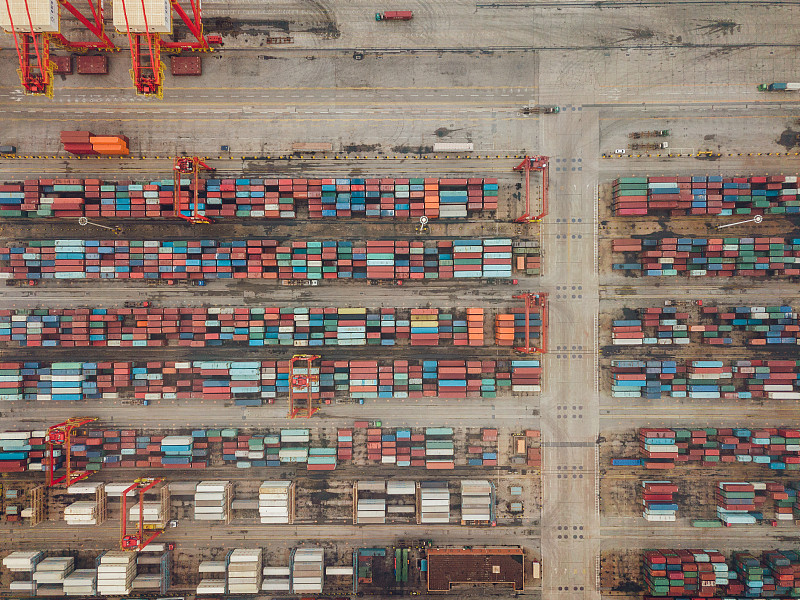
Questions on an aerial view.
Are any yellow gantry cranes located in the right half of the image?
No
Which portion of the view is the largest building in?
bottom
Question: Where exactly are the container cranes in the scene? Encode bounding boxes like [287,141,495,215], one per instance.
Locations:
[48,418,98,490]
[510,294,547,355]
[512,153,548,224]
[288,353,321,421]
[121,477,166,555]
[0,0,127,108]
[113,0,221,108]
[176,154,216,224]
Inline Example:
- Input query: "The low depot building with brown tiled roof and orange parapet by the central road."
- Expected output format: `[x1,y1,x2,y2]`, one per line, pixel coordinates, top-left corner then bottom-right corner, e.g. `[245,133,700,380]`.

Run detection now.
[427,549,524,591]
